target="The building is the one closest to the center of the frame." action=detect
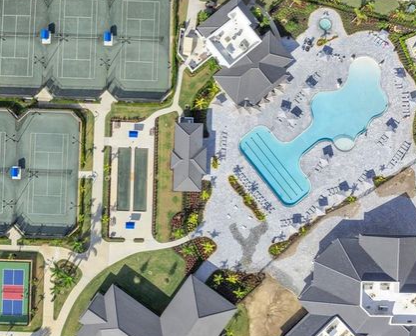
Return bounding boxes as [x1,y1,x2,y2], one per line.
[171,124,207,192]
